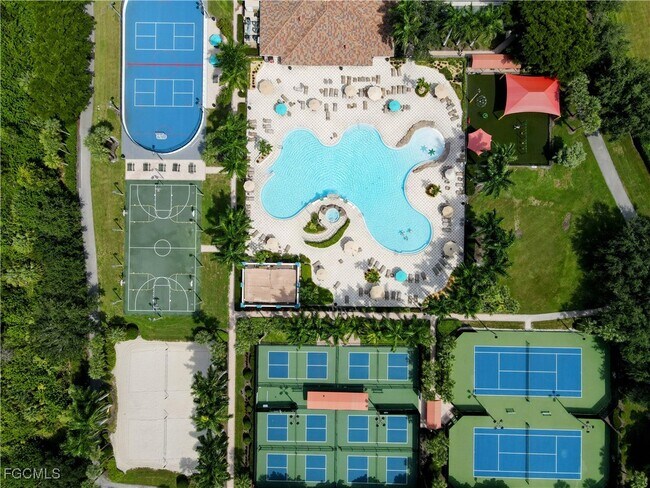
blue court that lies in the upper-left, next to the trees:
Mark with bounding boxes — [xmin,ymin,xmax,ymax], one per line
[118,0,206,154]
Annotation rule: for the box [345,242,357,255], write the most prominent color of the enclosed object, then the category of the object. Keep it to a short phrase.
white umbrella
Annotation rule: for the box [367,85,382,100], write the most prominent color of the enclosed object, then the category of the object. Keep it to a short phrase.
white umbrella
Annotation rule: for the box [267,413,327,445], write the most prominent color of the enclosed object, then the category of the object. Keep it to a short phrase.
blue sports court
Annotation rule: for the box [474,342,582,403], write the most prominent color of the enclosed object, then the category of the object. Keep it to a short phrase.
blue tennis court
